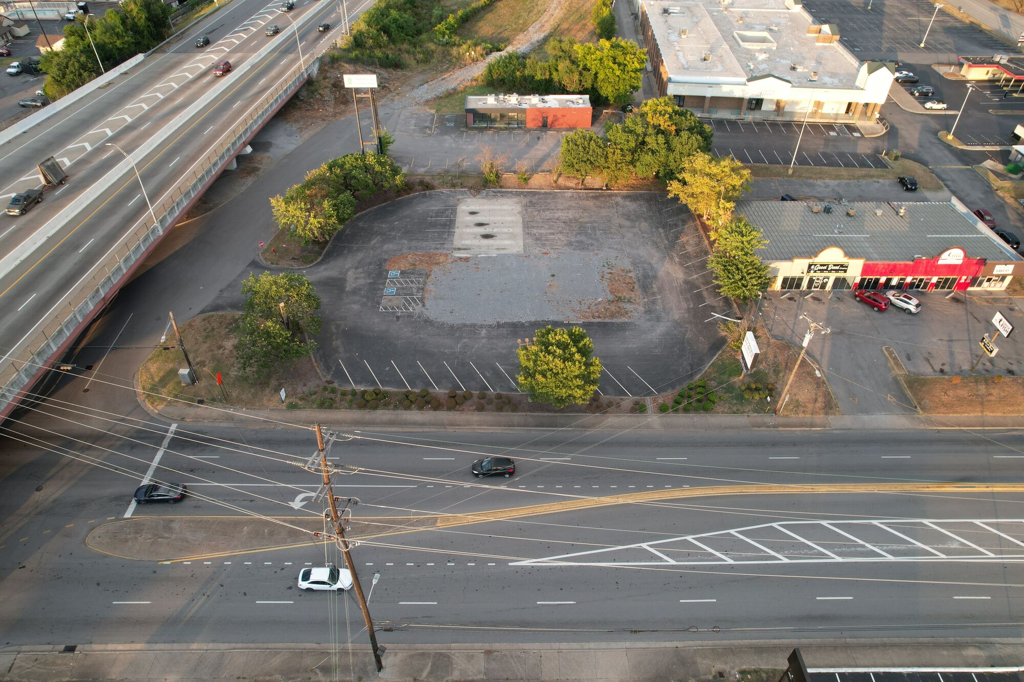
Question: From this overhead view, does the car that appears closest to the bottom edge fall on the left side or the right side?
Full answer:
The car that appears closest to the bottom edge sits on the left side.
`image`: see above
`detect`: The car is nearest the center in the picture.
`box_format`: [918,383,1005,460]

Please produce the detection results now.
[473,456,514,478]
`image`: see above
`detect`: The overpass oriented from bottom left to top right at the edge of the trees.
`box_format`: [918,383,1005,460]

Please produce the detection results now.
[0,0,378,440]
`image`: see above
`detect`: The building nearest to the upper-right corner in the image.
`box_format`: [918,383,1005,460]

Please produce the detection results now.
[949,51,1024,94]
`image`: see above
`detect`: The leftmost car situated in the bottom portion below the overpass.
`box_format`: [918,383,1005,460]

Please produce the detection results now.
[131,481,186,504]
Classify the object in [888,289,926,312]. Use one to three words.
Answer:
car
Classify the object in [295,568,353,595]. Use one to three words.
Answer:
car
